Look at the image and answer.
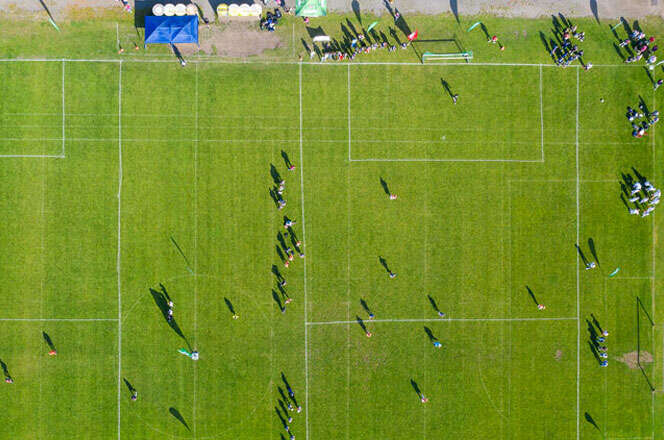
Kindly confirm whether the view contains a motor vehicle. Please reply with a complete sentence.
No, I can't see a single motor vehicle in this photo.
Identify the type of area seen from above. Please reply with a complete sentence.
This looks like a sports ground.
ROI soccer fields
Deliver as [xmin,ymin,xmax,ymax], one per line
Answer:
[300,62,578,440]
[0,60,653,440]
[0,60,120,440]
